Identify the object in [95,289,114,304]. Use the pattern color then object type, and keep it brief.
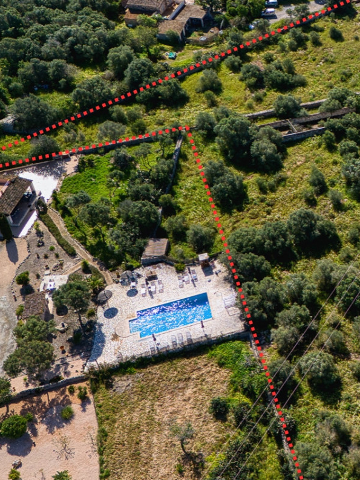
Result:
gray umbrella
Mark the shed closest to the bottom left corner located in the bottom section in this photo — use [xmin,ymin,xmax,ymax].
[12,286,42,318]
